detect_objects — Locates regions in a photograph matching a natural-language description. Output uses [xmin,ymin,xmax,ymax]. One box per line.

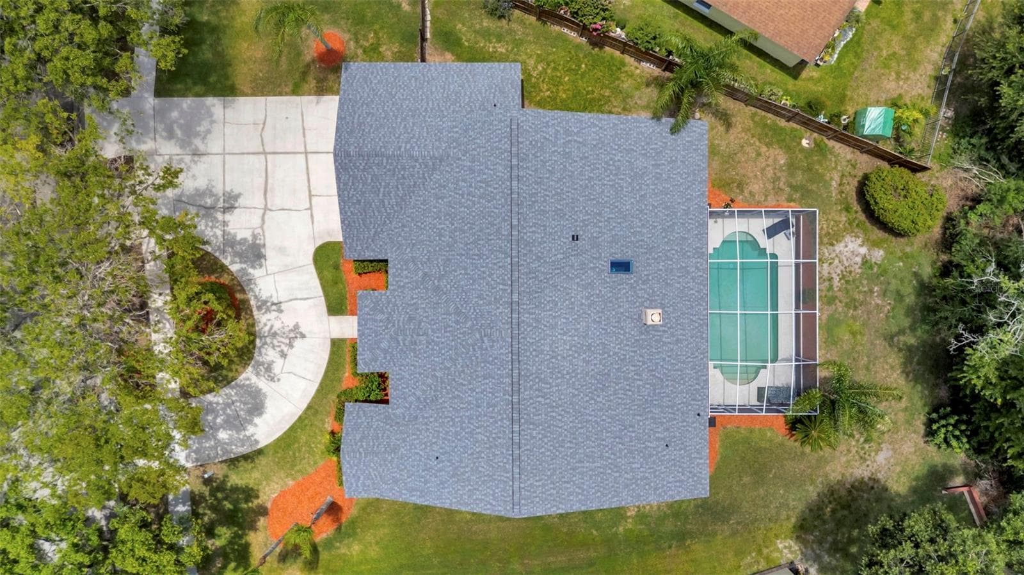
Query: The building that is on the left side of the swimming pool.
[333,61,709,518]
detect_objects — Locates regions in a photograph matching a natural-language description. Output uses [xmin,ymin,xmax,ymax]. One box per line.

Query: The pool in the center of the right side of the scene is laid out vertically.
[711,230,780,386]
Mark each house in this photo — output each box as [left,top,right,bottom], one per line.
[680,0,852,66]
[333,61,709,518]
